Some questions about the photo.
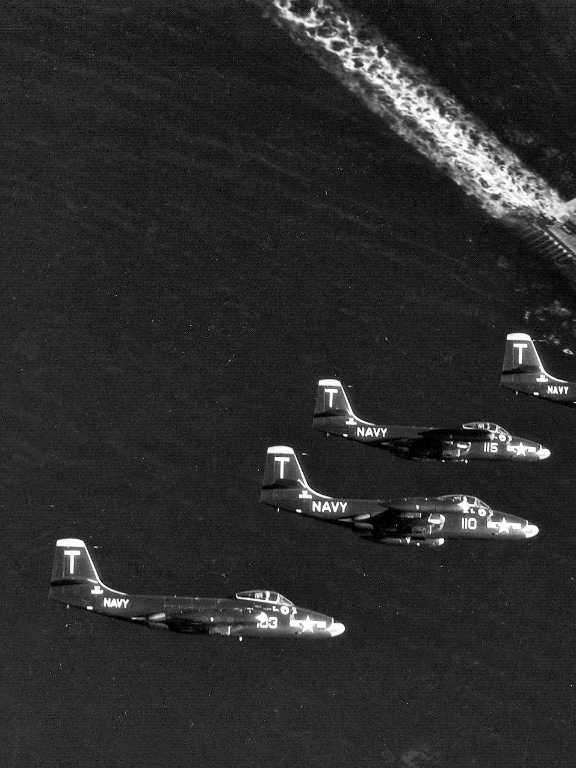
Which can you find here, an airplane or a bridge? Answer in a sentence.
Visible in the photo is an airplane.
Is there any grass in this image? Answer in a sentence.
No, there is no grass in the image.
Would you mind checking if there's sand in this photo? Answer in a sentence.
No, no sand is visible.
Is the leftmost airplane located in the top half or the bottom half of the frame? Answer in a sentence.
The leftmost airplane sits in the bottom half of the picture.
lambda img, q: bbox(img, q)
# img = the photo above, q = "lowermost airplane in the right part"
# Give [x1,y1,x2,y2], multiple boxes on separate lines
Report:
[259,445,538,548]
